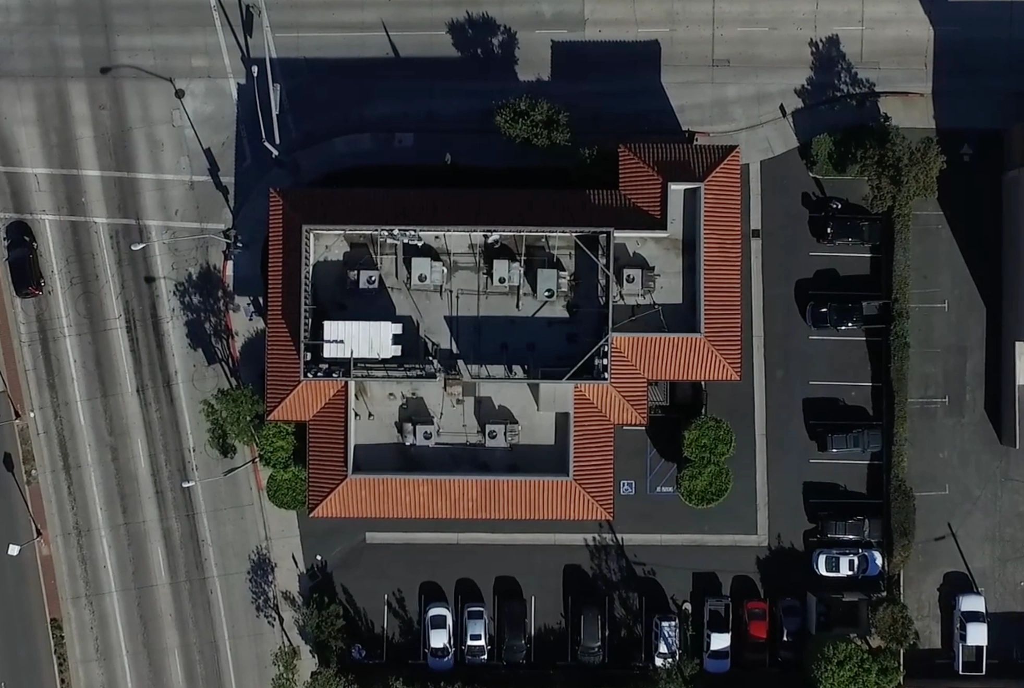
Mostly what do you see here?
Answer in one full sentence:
The bulk of the photo consists of paved ground.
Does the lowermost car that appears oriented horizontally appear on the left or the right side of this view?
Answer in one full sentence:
The lowermost car that appears oriented horizontally is on the right side of the image.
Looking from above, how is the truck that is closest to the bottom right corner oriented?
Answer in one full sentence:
What the image shows is the truck that is closest to the bottom right corner lying up and down.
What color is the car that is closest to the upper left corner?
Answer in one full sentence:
The car that is closest to the upper left corner is black.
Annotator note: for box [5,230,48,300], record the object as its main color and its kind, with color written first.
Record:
black car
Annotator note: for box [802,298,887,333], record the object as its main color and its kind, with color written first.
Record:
black truck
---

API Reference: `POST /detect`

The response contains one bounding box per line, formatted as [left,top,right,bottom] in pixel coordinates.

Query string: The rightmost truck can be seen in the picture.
[951,589,992,675]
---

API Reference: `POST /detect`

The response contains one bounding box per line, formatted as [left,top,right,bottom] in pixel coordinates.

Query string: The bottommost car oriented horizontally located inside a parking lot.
[809,546,881,580]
